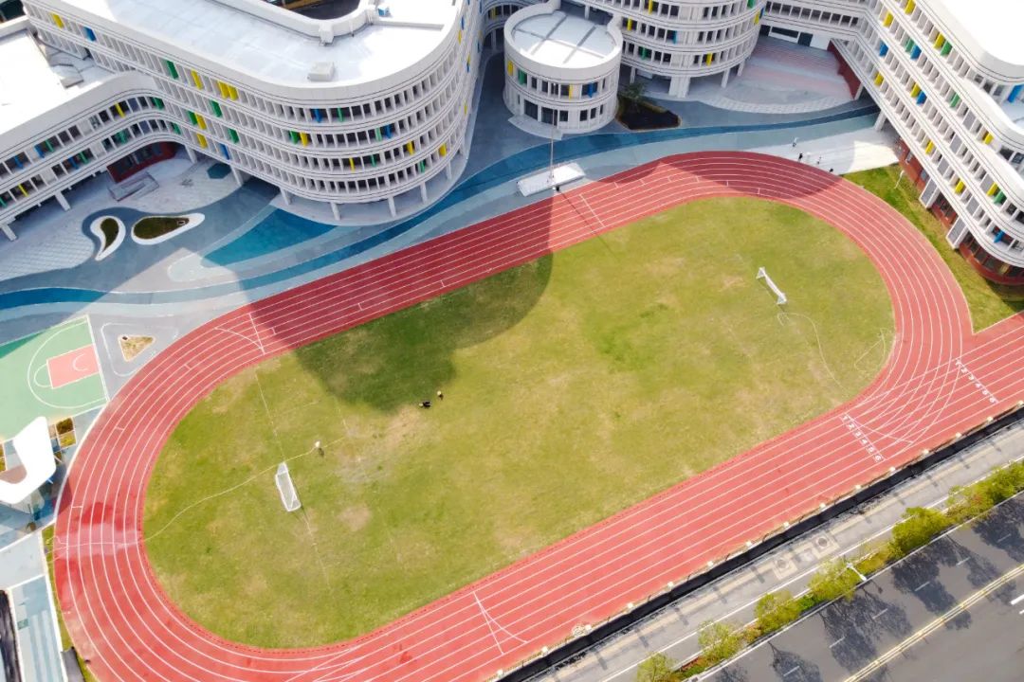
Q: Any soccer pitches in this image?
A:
Yes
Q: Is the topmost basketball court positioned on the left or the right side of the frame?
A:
left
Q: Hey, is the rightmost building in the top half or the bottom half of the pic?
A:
top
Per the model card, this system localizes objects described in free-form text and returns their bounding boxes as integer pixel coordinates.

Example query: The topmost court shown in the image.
[0,314,107,442]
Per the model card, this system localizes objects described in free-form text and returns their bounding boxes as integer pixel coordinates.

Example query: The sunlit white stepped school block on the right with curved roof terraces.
[834,0,1024,288]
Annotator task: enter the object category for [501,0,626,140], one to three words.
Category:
building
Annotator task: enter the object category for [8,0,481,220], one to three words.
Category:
building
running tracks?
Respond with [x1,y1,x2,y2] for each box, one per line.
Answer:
[54,151,1024,682]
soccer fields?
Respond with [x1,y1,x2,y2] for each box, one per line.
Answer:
[144,196,897,651]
